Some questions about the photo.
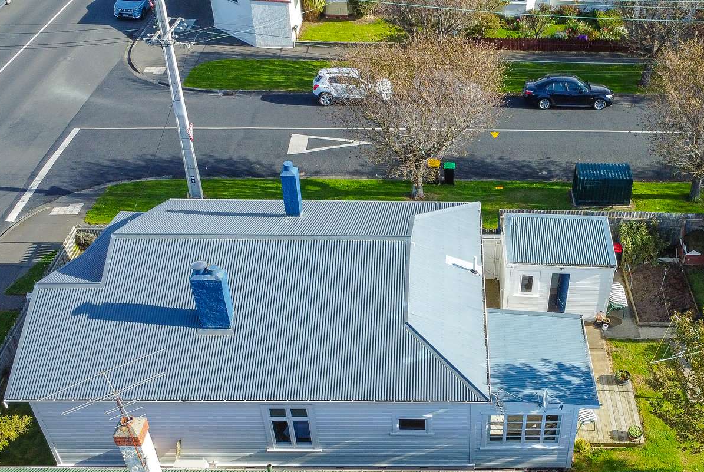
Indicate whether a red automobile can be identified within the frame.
No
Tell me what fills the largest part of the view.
buildings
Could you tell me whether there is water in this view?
No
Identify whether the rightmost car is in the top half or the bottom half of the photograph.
top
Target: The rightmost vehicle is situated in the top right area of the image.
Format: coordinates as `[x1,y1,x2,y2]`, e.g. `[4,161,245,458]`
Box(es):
[524,72,618,108]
